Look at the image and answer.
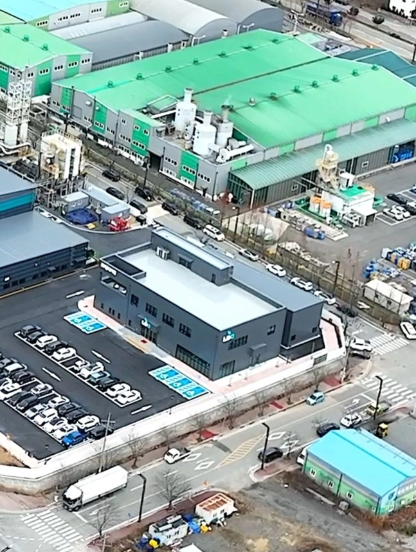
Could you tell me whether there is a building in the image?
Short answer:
Yes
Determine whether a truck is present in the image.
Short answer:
Yes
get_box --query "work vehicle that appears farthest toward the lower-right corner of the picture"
[377,422,396,439]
